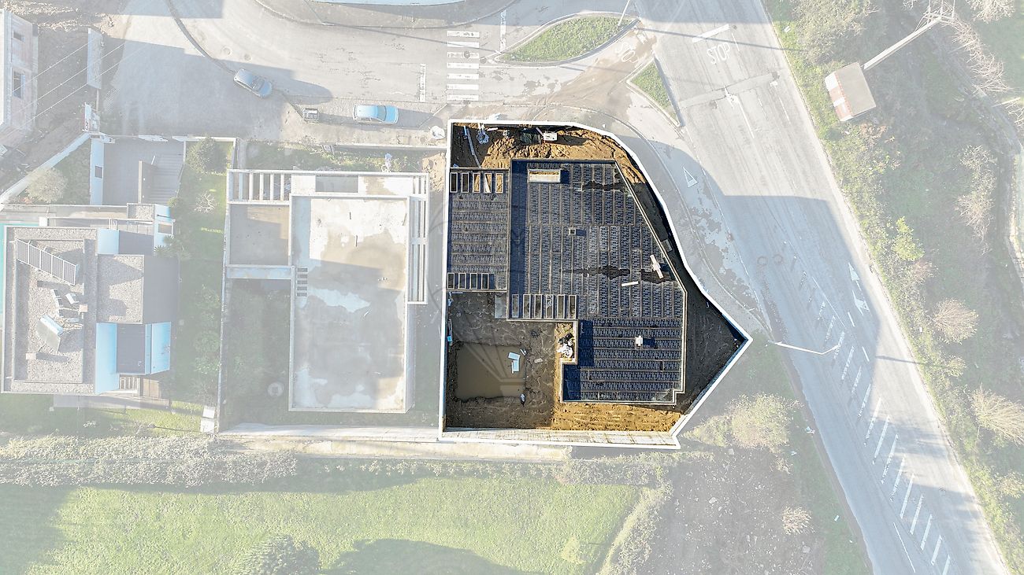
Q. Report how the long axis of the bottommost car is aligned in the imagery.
from left to right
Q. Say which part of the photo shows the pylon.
top right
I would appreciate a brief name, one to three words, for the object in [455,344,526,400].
pond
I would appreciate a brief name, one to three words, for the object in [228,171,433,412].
house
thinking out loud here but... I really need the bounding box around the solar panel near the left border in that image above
[16,235,88,284]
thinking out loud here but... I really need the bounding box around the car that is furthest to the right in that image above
[352,100,397,122]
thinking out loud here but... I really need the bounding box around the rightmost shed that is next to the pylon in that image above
[822,63,876,123]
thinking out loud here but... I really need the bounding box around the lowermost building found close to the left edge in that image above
[2,203,181,408]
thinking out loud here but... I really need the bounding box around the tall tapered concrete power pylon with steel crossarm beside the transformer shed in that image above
[861,0,956,74]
